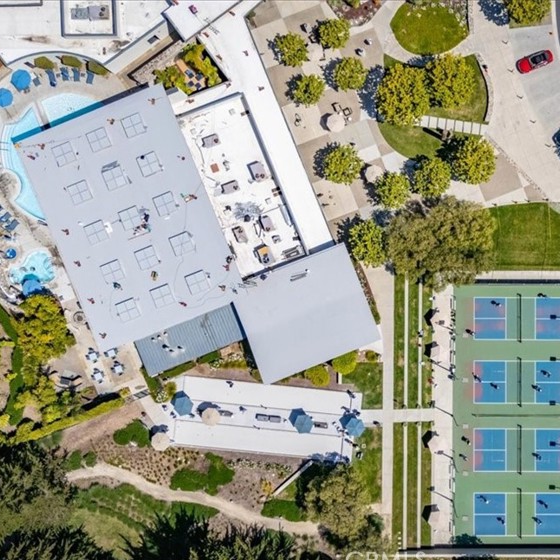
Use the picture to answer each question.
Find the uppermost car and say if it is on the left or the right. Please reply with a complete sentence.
The uppermost car is on the right side of the image.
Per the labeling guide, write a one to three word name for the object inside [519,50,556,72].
car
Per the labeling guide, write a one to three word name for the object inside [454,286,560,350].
sports court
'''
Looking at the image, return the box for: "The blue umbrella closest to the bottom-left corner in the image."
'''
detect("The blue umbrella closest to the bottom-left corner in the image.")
[174,396,193,417]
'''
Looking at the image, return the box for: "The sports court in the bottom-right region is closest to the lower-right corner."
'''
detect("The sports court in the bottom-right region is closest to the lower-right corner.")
[454,482,560,548]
